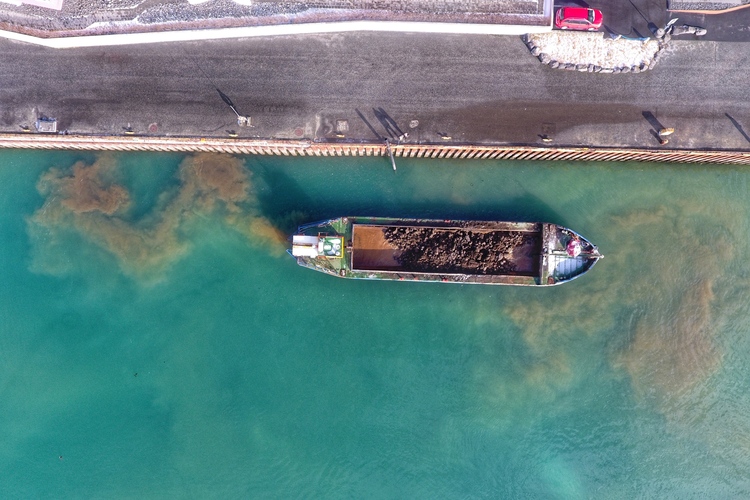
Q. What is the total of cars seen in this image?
1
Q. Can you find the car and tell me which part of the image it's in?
top right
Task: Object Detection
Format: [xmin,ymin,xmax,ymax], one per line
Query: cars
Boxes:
[554,6,603,33]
